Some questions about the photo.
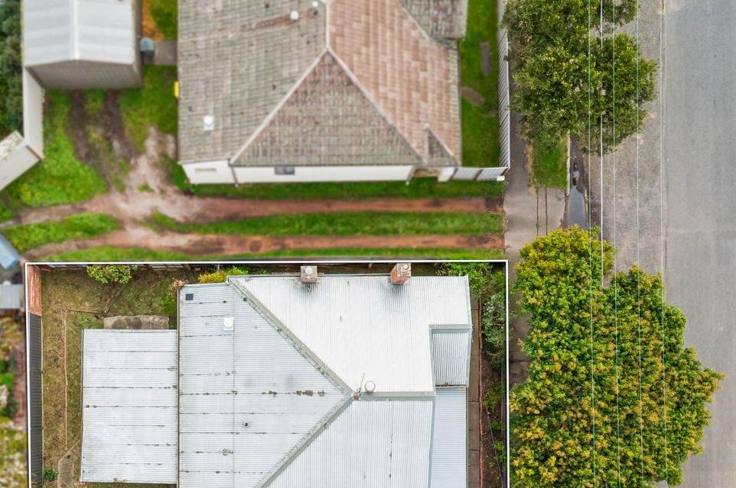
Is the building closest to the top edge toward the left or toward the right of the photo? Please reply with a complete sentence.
You can find the building closest to the top edge on the left side of the picture.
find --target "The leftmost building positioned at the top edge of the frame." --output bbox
[20,0,146,89]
